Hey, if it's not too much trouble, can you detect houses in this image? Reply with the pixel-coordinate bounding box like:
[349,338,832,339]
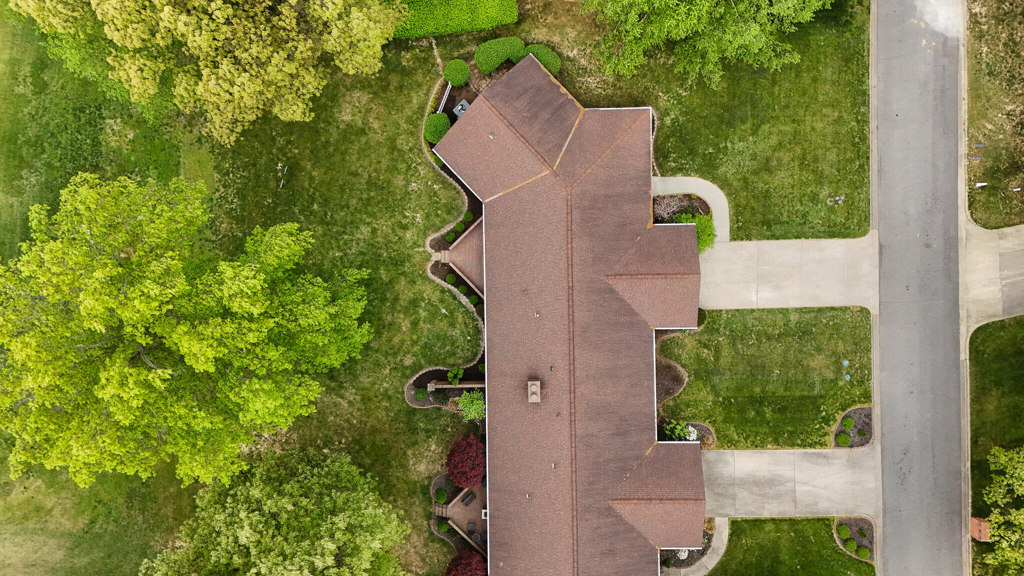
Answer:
[431,53,706,576]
